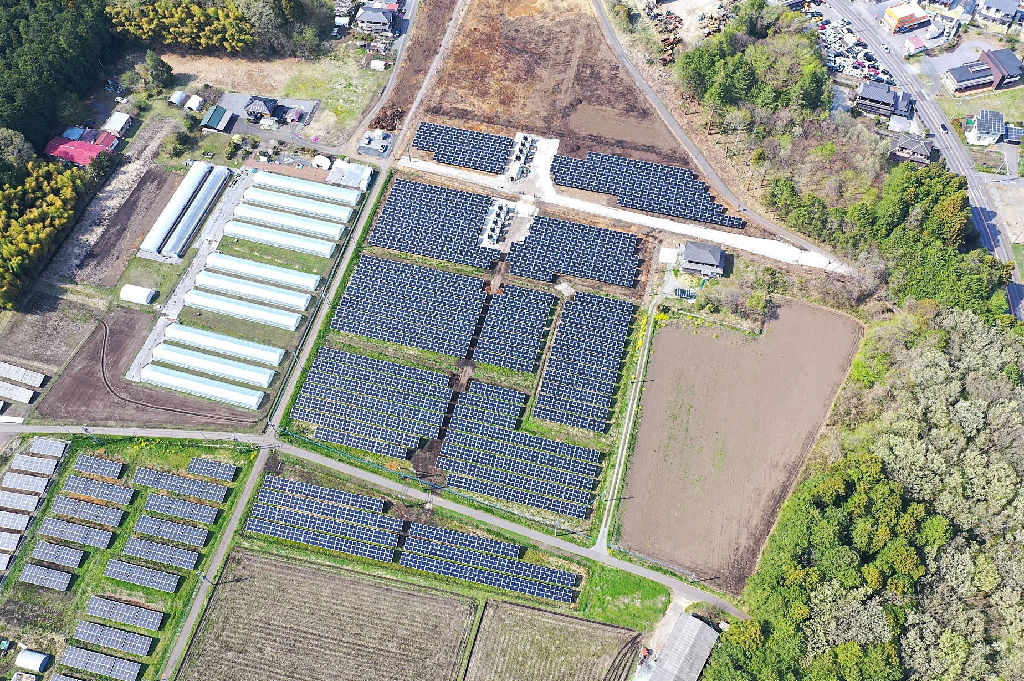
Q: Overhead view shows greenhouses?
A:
Yes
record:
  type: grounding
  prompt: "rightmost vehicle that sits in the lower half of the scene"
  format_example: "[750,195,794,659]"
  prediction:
[638,642,650,664]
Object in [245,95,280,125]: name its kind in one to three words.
house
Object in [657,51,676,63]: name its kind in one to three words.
vehicle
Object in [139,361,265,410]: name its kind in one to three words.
greenhouse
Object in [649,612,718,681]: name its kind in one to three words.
barn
